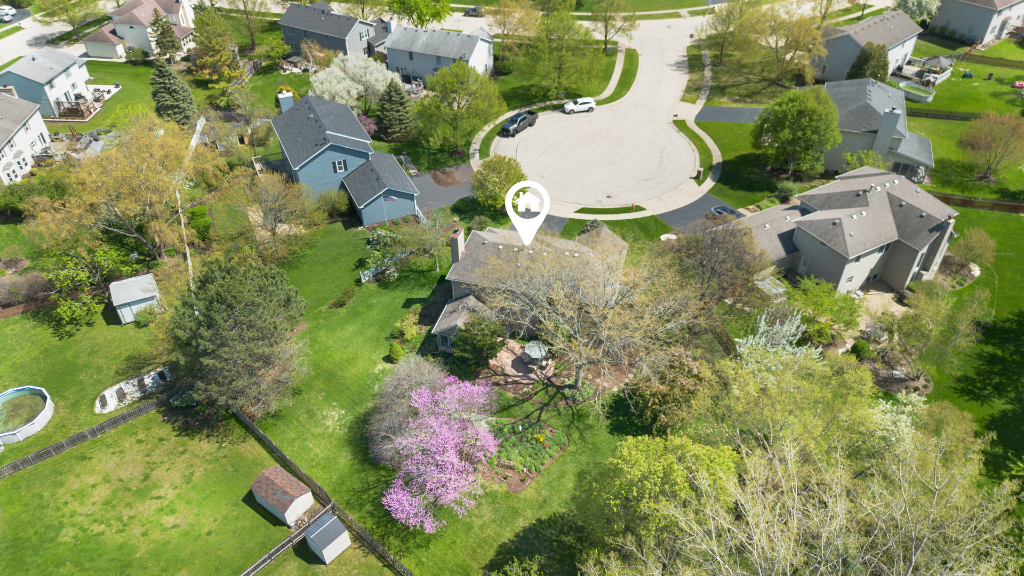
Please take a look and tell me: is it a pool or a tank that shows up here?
pool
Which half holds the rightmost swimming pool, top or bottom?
top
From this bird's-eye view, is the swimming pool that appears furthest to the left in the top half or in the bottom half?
bottom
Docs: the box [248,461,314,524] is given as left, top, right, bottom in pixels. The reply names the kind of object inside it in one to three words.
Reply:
shed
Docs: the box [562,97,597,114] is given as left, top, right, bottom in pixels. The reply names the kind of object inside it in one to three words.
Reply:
car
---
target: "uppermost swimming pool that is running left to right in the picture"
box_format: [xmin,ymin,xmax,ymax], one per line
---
[892,83,942,104]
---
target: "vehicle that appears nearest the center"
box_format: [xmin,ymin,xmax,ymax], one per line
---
[500,112,538,136]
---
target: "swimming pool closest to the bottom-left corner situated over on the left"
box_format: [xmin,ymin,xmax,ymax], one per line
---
[0,386,57,446]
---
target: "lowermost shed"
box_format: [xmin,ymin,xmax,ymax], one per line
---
[303,512,351,564]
